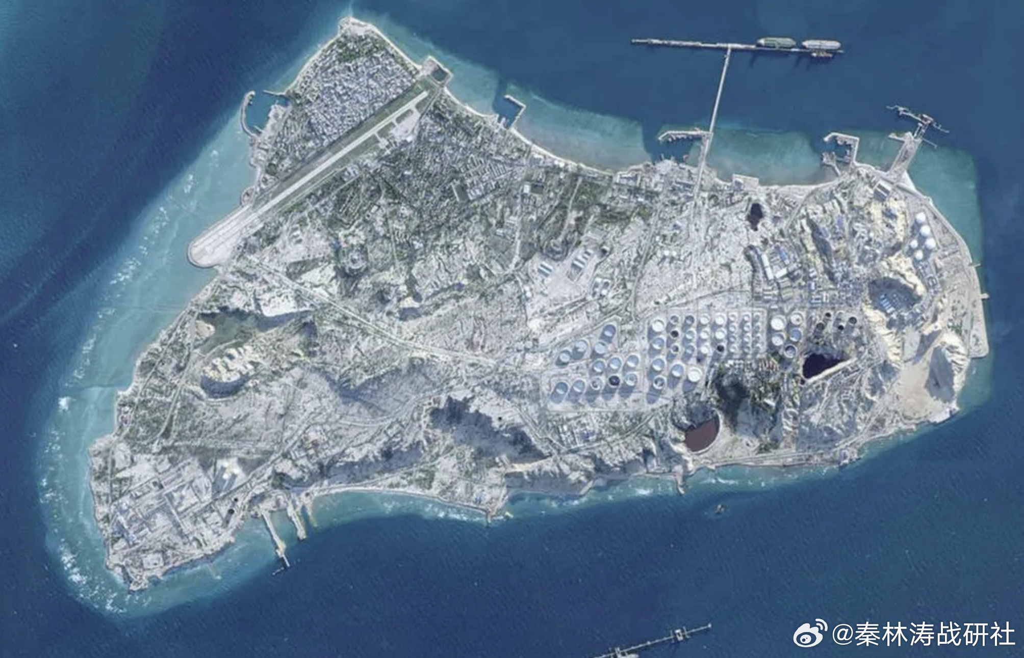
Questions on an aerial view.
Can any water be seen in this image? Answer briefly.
Yes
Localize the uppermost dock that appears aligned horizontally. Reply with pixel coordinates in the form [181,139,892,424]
[631,39,844,51]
